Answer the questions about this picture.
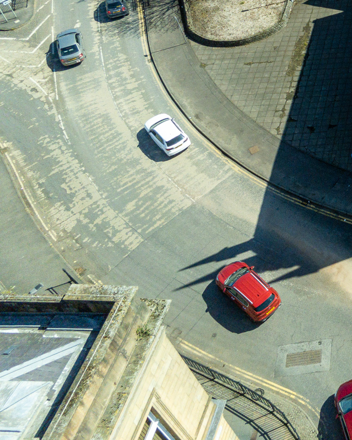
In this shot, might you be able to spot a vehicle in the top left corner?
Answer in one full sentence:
Yes, a vehicle is visible in the top left corner.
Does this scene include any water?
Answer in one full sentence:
No, water can't be seen anywhere here.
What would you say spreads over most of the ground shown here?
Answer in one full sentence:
For the most part, this view shows paved ground.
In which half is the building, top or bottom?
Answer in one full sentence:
The bottom half of the photo is where the building is.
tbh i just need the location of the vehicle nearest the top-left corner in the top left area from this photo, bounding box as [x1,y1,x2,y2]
[46,25,84,69]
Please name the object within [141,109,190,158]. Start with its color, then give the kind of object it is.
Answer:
white car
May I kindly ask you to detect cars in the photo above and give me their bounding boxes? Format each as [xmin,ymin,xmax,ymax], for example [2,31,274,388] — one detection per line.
[101,0,127,19]
[328,375,352,440]
[213,258,284,322]
[141,109,190,158]
[46,25,84,69]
